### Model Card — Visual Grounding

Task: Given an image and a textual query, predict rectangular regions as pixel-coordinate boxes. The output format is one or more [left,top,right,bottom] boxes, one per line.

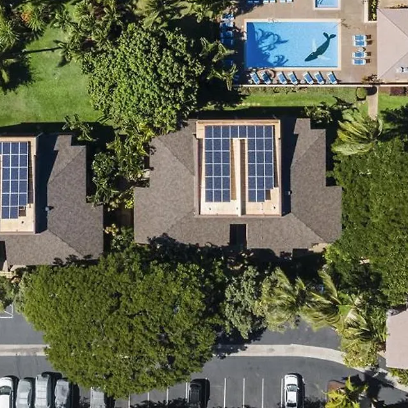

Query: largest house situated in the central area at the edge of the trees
[134,115,341,258]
